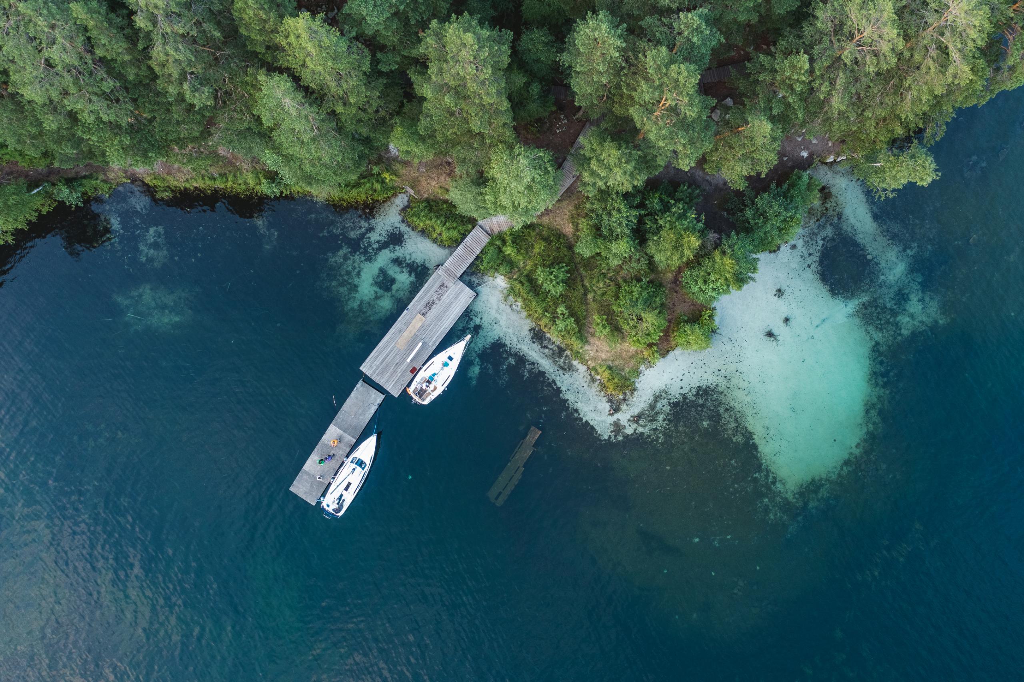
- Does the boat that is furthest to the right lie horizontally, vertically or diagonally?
diagonally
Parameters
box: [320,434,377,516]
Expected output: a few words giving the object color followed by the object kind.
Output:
white boat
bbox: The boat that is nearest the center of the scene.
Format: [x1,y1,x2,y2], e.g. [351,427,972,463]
[408,335,470,405]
